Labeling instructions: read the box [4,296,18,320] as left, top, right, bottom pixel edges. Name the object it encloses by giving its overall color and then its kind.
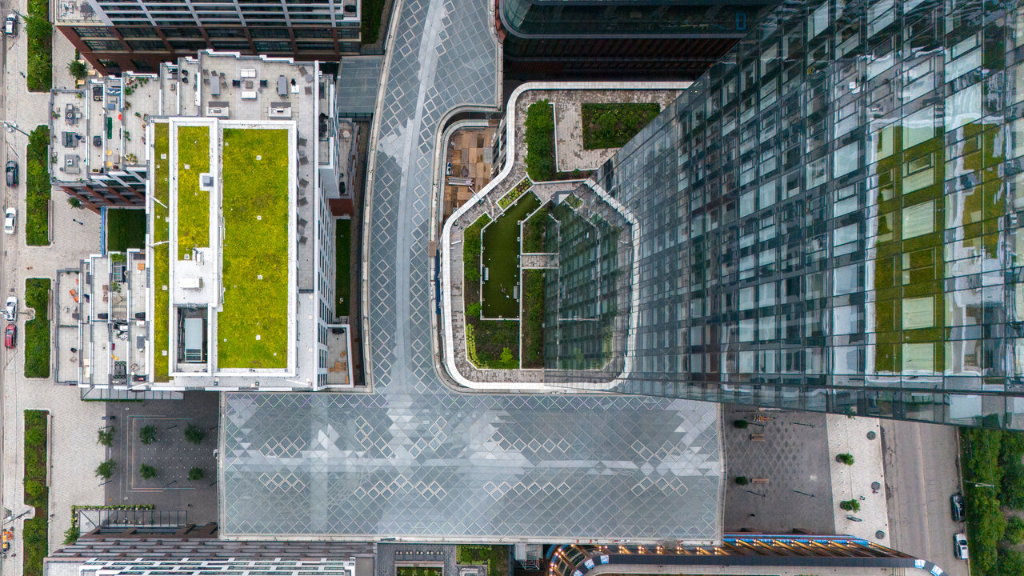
white car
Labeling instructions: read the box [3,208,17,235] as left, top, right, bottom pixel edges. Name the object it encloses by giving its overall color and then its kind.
white car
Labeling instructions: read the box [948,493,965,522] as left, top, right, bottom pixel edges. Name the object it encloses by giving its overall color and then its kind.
black car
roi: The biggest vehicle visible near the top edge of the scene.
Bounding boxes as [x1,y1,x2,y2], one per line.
[3,11,17,38]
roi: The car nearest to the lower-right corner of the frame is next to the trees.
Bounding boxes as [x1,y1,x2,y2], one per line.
[951,532,968,560]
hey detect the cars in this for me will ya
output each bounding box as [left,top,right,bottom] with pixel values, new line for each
[4,296,18,320]
[3,11,17,38]
[4,160,19,187]
[948,493,965,522]
[3,324,17,348]
[951,532,968,560]
[3,208,17,235]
